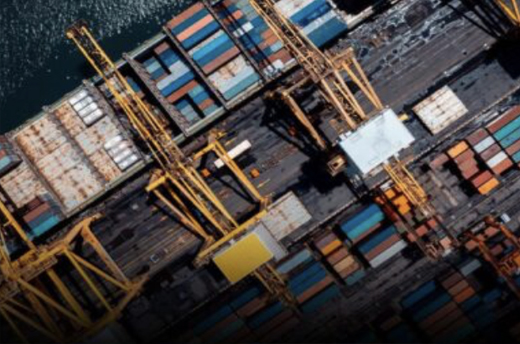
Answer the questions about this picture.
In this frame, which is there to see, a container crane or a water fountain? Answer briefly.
container crane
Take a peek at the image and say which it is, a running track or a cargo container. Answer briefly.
cargo container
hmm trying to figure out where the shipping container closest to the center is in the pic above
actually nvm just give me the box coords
[219,137,256,166]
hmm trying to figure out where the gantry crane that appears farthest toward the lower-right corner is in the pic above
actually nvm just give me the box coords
[448,206,520,307]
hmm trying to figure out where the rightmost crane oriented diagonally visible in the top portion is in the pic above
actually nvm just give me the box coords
[249,0,435,217]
